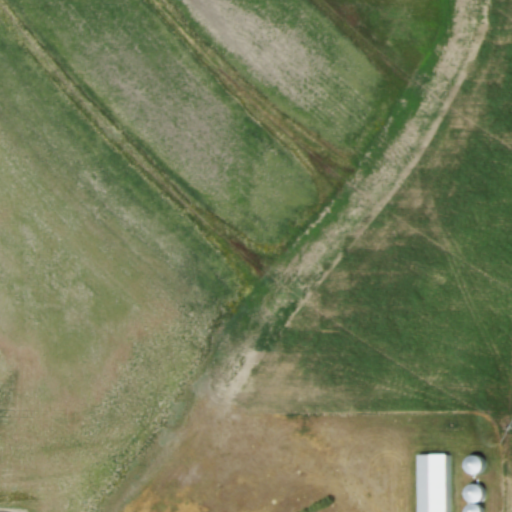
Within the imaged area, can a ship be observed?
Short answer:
No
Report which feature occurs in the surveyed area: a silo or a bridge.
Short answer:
silo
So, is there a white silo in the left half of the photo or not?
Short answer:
No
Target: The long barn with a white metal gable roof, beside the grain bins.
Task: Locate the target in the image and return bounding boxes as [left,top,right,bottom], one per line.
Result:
[416,452,452,512]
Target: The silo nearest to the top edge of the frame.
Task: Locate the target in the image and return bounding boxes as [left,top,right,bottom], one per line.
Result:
[462,455,488,478]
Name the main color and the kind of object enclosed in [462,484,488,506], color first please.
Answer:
white silo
